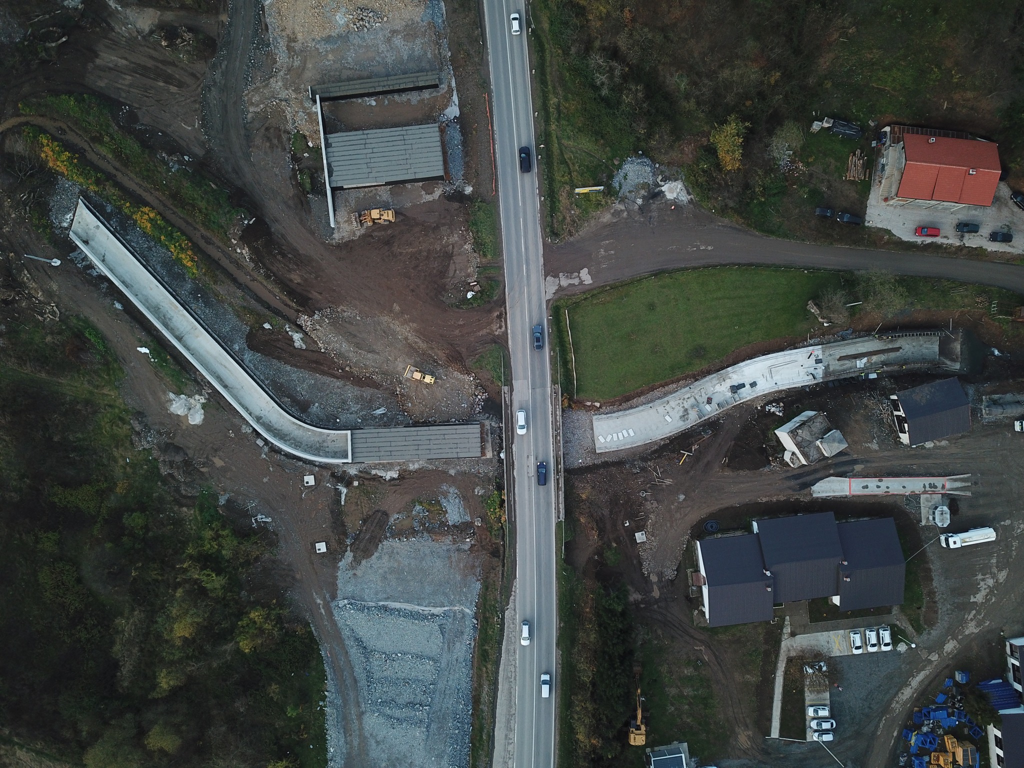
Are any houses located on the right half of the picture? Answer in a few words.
Yes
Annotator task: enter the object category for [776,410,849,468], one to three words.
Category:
house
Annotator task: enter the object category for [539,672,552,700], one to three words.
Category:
vehicle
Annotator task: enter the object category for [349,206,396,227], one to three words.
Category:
work vehicle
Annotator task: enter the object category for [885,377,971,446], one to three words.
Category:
barn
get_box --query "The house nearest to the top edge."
[866,126,1002,218]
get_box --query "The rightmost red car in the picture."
[914,225,940,238]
